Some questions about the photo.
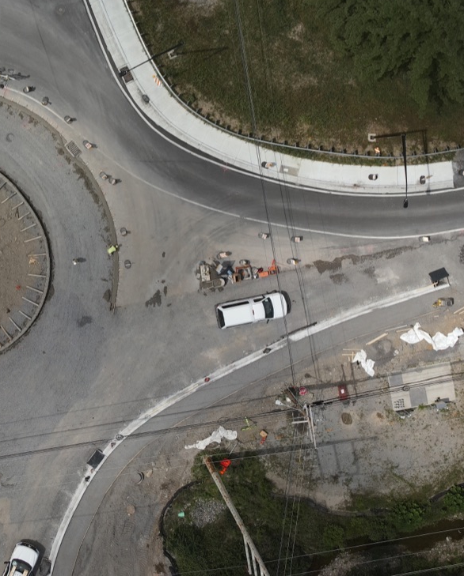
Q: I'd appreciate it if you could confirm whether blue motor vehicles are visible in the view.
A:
No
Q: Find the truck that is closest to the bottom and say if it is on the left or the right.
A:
left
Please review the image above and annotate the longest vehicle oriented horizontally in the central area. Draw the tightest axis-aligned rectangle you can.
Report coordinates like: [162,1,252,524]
[215,293,292,329]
